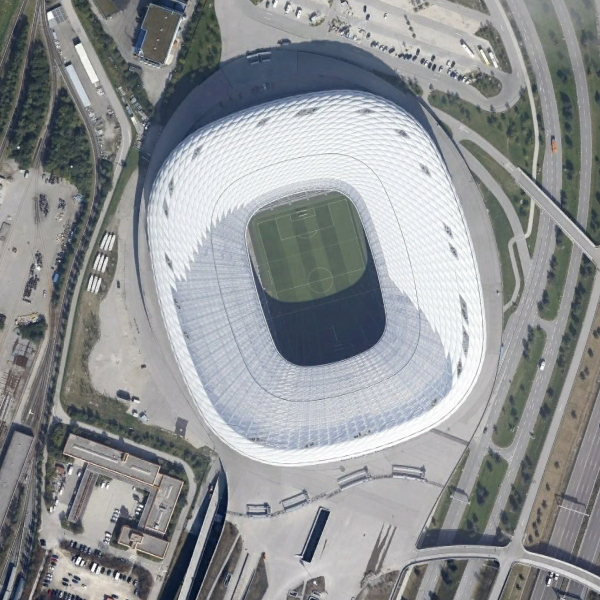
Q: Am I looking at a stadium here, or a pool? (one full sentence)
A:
The one in the frame is a stadium.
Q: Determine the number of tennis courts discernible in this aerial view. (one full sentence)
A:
Not a single tennis court can be seen.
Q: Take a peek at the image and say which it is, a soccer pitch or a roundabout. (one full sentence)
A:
Looking from above, you can make out a soccer pitch.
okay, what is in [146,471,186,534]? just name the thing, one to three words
building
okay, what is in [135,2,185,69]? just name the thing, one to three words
building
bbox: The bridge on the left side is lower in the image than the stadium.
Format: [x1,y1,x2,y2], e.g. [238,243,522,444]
[179,473,221,600]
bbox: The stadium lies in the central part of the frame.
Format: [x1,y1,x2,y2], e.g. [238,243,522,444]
[148,86,485,469]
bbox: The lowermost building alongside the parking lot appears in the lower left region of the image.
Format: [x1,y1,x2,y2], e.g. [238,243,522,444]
[118,524,171,560]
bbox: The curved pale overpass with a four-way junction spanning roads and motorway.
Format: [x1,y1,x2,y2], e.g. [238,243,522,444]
[390,535,600,600]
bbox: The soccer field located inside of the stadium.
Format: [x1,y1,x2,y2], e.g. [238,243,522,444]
[250,195,381,363]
